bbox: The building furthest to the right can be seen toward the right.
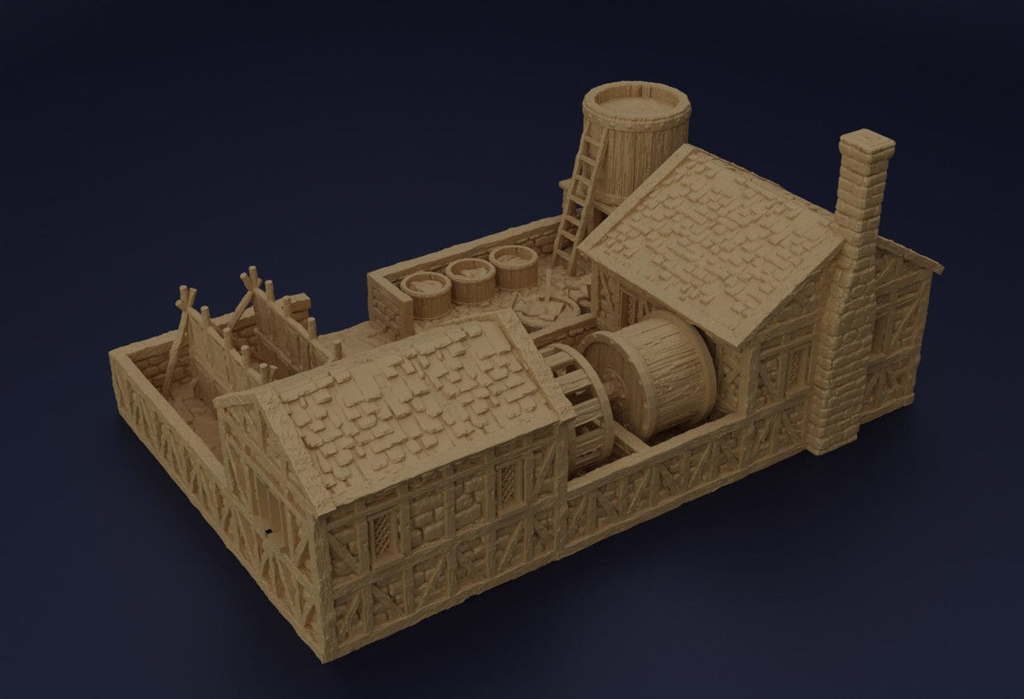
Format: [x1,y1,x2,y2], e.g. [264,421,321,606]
[577,127,943,478]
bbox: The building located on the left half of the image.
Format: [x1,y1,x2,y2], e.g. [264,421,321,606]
[210,305,576,665]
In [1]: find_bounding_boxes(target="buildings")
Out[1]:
[577,127,943,478]
[210,305,576,665]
